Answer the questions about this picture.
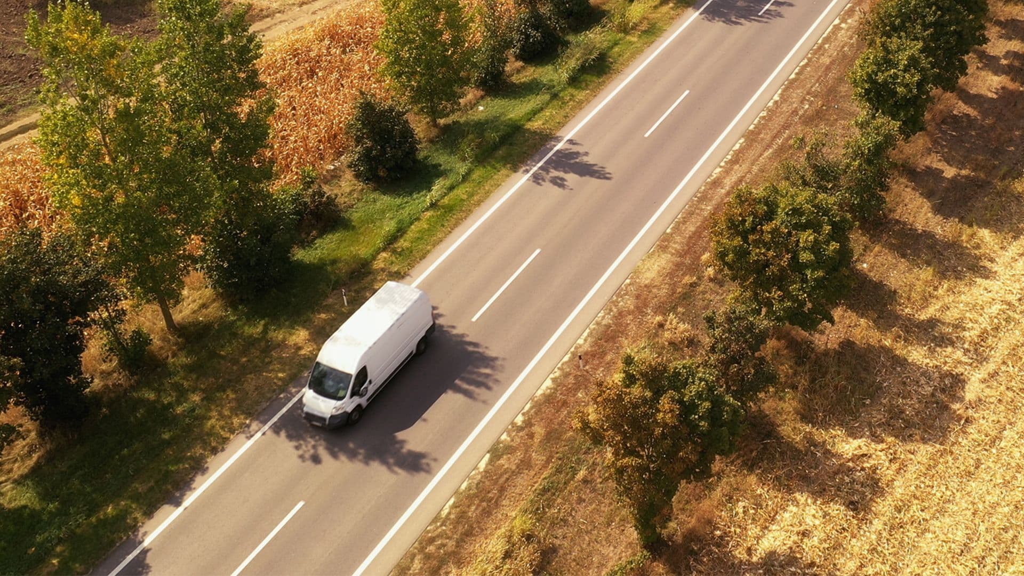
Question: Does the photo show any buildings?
No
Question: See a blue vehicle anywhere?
No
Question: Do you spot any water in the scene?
No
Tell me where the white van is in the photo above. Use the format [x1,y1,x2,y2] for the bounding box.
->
[296,279,436,434]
